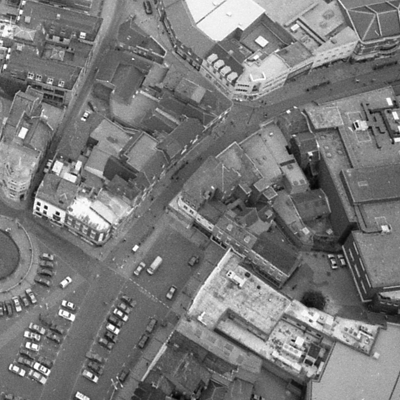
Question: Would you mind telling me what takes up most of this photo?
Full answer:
For the most part, this view shows buildings.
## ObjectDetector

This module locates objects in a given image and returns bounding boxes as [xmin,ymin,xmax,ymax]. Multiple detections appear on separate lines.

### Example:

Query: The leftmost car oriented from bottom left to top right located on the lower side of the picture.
[58,275,74,289]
